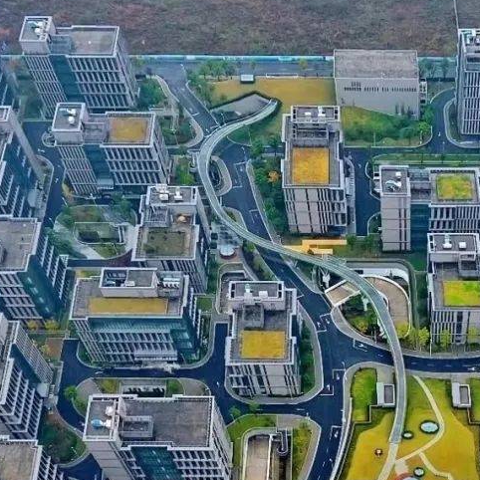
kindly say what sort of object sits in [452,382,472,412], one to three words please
building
